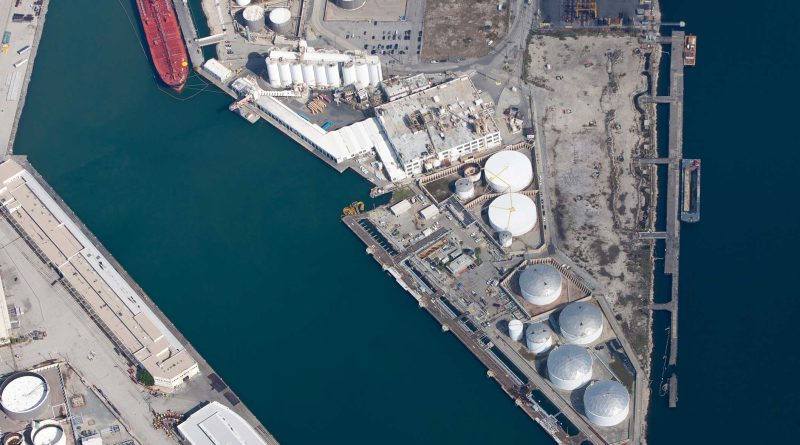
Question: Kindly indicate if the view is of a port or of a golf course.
port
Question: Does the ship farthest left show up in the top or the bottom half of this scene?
top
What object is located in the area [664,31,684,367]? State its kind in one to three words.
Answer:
pier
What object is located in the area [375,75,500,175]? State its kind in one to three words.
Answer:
building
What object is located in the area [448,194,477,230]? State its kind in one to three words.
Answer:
shed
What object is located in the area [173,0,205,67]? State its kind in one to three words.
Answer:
pier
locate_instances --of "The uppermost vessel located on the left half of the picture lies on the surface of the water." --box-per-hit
[137,0,189,97]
